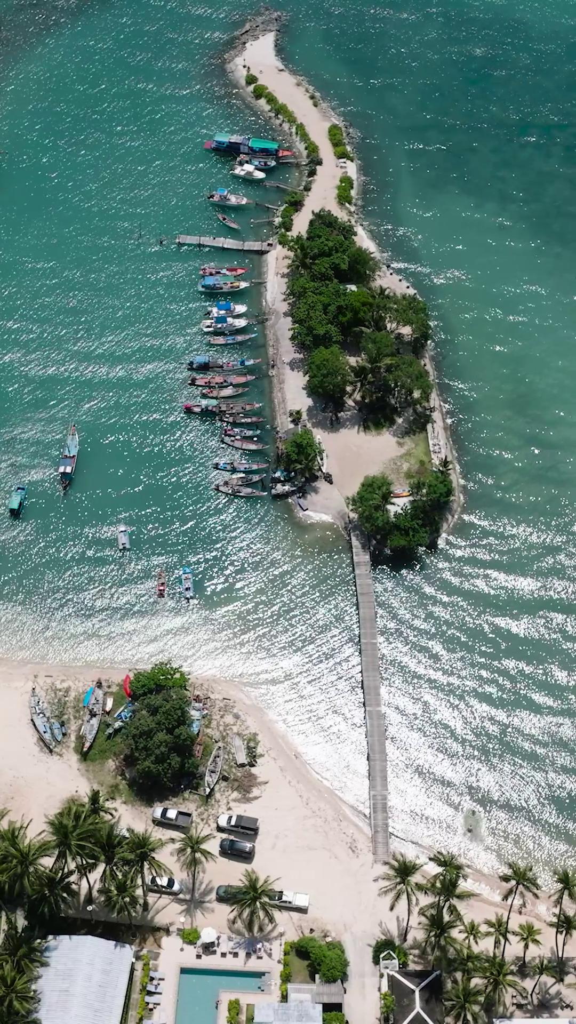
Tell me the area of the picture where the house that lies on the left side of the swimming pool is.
bottom left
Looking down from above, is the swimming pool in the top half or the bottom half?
bottom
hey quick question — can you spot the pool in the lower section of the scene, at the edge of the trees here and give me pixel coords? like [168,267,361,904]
[149,937,284,1024]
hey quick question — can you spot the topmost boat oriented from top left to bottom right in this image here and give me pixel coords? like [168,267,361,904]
[216,212,241,231]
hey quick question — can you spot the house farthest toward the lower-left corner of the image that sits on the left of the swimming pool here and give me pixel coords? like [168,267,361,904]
[34,935,135,1024]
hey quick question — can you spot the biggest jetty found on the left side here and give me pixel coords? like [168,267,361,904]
[175,230,277,257]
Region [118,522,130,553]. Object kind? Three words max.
boat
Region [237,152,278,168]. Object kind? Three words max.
boat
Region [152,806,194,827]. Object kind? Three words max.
truck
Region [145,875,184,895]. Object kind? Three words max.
car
